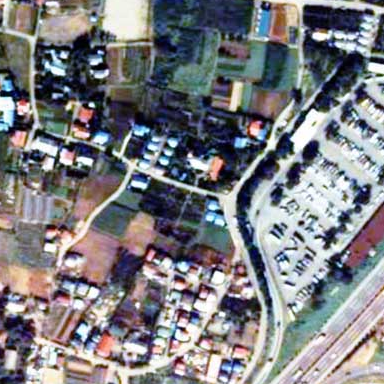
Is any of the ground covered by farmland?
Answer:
Yes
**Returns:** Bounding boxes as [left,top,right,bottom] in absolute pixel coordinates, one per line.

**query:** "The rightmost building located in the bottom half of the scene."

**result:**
[344,208,384,268]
